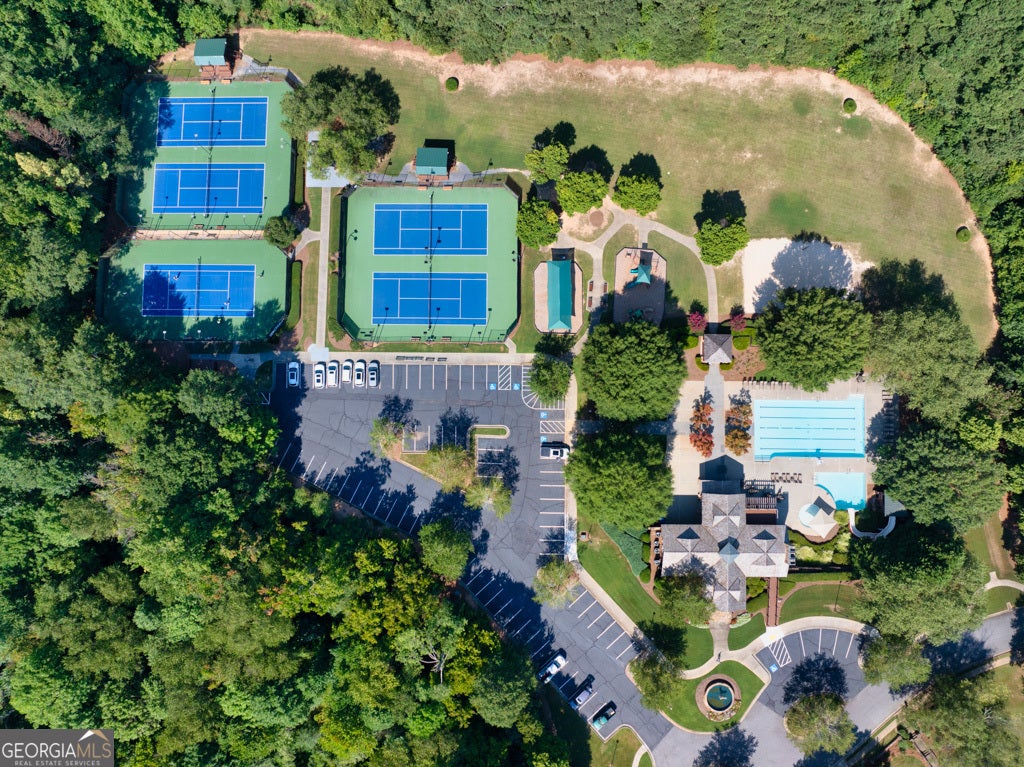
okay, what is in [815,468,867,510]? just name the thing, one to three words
swimming pool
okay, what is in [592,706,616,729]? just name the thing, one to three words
truck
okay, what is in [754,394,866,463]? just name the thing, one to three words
swimming pool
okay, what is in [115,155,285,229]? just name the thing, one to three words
tennis court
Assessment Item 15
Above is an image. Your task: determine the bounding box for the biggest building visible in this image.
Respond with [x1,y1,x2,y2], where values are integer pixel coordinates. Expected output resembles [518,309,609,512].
[657,480,791,613]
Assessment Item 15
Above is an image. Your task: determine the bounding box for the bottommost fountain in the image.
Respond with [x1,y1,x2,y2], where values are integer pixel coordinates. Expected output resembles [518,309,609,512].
[696,674,742,714]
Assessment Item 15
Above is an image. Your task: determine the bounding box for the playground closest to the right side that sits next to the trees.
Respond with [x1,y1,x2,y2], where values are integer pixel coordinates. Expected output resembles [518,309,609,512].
[613,246,668,338]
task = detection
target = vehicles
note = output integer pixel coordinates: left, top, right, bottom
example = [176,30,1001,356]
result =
[368,362,379,386]
[569,686,592,709]
[354,362,366,386]
[343,361,353,383]
[314,365,326,389]
[327,361,339,386]
[592,706,616,729]
[288,362,300,386]
[539,655,565,684]
[541,448,569,458]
